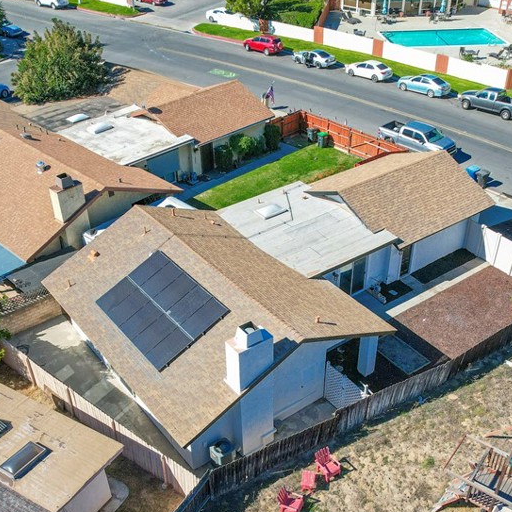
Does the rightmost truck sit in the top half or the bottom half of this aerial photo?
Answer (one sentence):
You can find the rightmost truck in the top half.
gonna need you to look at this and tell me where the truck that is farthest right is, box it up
[457,85,512,120]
